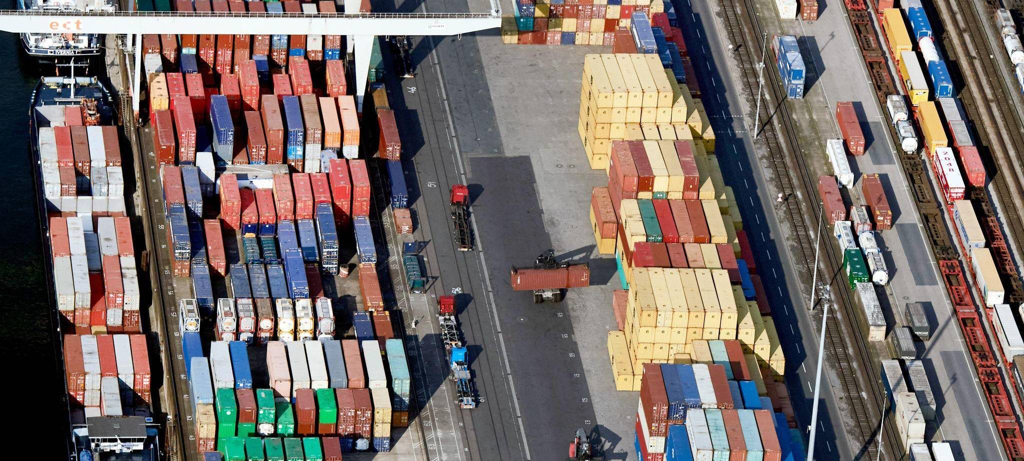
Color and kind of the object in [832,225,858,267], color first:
white shipping container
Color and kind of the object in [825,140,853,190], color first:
white shipping container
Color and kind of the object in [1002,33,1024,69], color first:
white rail car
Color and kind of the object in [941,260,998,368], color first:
red rail car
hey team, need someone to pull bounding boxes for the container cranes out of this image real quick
[0,0,506,124]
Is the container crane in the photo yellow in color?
No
